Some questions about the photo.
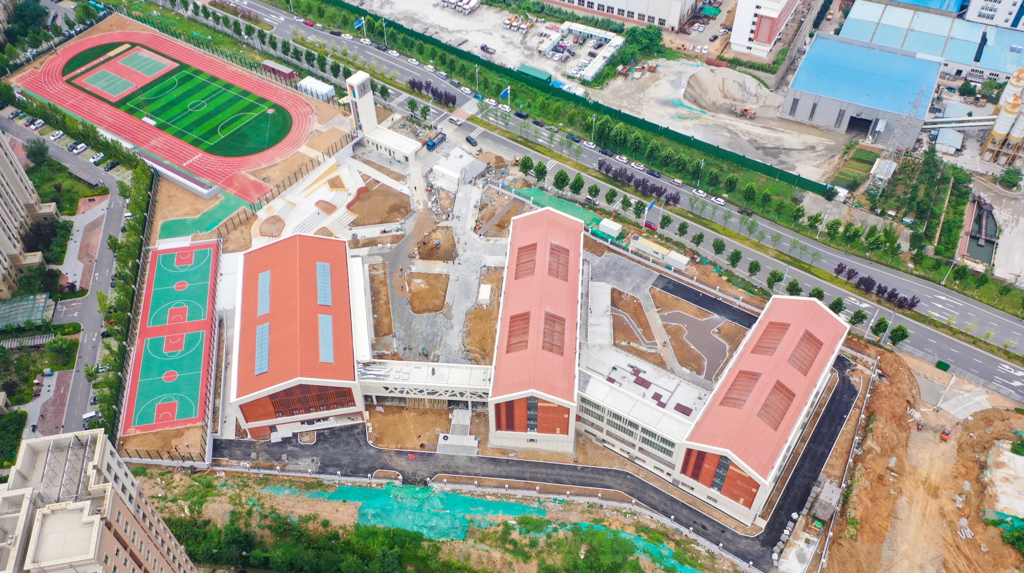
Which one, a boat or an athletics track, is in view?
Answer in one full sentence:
It is an athletics track that can be seen here.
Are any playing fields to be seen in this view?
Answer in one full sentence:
Yes, a playing field appears in the view.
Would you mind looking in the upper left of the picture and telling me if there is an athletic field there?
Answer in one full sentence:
Yes, an athletic field shows up in the upper left of the picture.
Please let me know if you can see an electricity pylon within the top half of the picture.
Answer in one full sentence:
Yes, you'll find an electricity pylon within the top half of the picture.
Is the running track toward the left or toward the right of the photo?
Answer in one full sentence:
The running track appears in the left half of the scene.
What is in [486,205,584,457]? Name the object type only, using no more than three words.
building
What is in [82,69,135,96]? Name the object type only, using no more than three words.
sports court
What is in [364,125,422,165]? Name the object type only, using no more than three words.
building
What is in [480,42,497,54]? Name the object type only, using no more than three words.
vehicle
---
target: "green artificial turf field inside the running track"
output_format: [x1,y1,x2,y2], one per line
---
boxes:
[62,41,292,156]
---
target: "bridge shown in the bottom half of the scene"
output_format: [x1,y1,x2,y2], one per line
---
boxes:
[360,358,491,412]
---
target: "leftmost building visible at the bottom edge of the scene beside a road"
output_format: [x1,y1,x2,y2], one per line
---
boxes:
[0,429,185,573]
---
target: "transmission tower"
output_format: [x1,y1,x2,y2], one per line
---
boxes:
[853,83,931,206]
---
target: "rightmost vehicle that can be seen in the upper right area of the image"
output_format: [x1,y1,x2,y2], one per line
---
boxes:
[960,92,989,107]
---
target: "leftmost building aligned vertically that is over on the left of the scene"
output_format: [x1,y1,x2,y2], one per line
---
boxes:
[0,133,56,302]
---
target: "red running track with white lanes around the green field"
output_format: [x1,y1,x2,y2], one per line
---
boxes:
[10,31,316,203]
